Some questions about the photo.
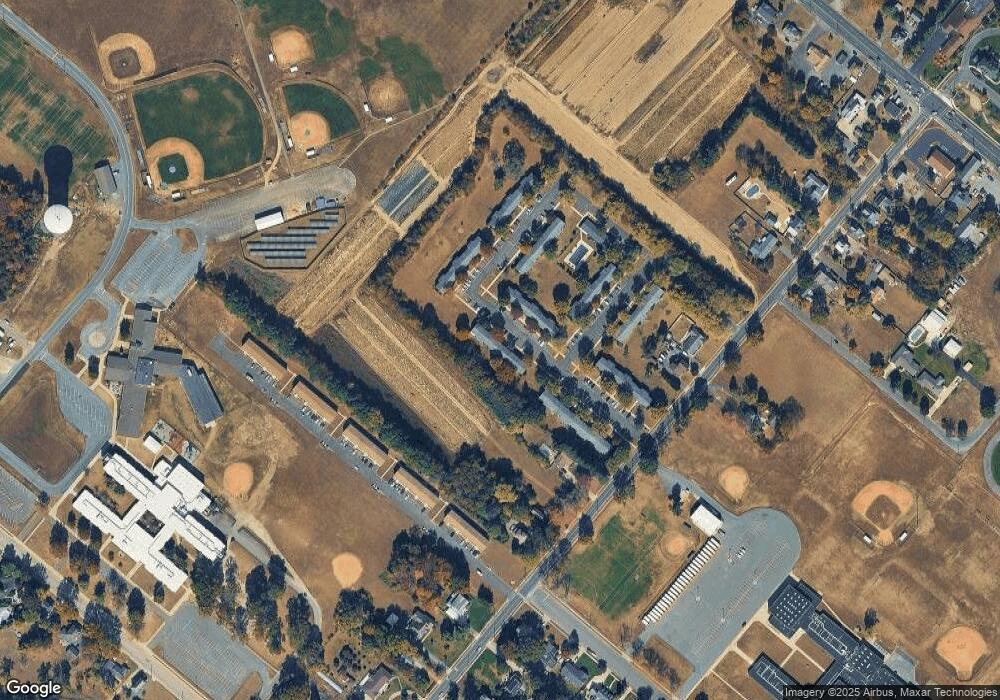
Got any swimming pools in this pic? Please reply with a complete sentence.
Yes, you can see a swimming pool in this photo.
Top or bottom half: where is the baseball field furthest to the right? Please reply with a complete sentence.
You can find the baseball field furthest to the right in the bottom half.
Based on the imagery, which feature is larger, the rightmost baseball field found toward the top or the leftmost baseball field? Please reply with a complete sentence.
Compared with the rightmost baseball field found toward the top, the leftmost baseball field is the larger one.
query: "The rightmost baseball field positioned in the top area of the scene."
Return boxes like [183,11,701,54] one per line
[371,78,403,111]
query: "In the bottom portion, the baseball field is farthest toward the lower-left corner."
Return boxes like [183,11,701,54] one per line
[226,463,252,496]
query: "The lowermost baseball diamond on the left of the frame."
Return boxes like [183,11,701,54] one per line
[335,554,362,587]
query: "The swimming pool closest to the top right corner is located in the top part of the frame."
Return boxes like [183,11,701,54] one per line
[744,184,761,199]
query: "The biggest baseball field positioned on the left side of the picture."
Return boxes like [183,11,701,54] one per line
[132,72,268,193]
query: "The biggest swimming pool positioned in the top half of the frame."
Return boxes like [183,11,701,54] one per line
[564,241,594,269]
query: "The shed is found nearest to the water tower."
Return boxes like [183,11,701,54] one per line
[96,163,116,193]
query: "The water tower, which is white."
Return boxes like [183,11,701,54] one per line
[44,204,72,233]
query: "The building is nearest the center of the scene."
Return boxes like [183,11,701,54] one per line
[471,323,527,375]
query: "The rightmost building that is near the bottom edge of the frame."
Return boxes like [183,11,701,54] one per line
[749,581,928,700]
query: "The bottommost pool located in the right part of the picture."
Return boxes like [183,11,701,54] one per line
[909,325,926,343]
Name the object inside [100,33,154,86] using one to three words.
baseball field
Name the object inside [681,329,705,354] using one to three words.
house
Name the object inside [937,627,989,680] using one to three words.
baseball field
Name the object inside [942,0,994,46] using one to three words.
building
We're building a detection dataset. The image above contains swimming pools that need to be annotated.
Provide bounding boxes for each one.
[909,325,926,343]
[564,241,594,269]
[744,184,761,199]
